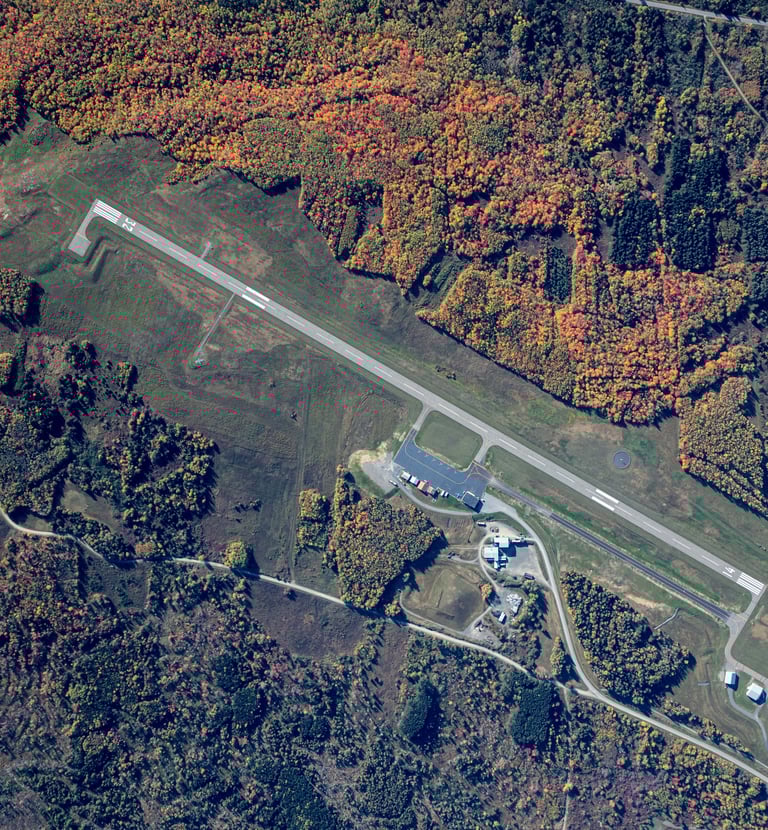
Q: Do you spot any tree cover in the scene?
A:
Yes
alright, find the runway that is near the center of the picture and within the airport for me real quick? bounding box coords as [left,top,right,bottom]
[91,199,767,597]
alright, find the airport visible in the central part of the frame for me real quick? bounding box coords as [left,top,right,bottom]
[69,199,768,686]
